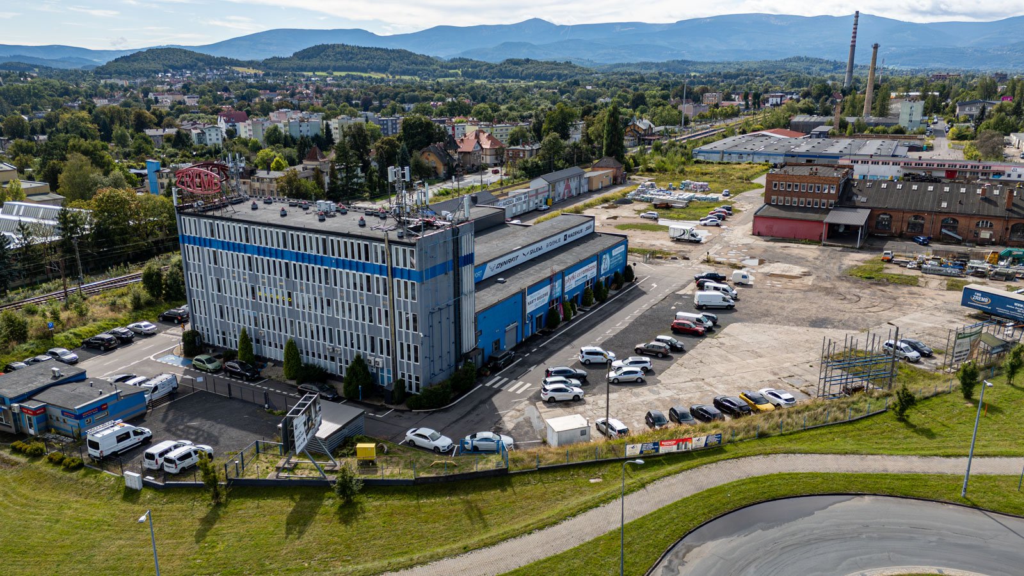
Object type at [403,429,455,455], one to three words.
car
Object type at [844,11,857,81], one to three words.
chimney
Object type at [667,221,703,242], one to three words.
truck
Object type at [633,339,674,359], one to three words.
car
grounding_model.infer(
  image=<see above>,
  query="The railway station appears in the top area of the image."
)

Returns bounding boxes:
[621,110,684,150]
